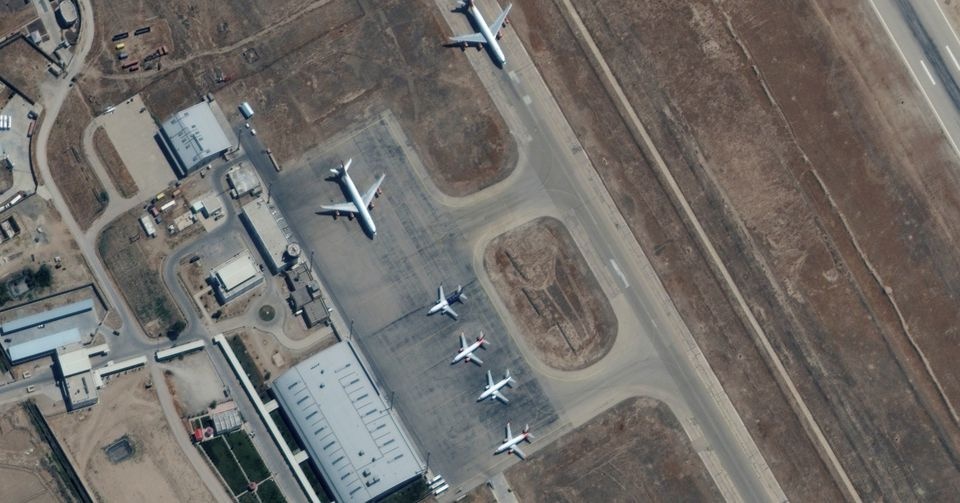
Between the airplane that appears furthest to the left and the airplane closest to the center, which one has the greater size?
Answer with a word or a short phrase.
the airplane that appears furthest to the left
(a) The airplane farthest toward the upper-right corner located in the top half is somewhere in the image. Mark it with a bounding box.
[448,0,518,64]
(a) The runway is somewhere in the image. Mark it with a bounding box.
[863,0,960,165]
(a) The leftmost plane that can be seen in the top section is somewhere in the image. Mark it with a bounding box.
[319,160,389,237]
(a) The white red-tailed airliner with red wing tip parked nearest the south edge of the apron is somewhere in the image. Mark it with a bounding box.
[493,423,532,456]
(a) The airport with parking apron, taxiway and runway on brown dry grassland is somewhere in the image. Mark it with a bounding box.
[269,0,960,503]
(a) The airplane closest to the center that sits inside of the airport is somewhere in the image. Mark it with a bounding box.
[428,286,465,316]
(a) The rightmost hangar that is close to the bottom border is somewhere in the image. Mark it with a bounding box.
[273,342,428,503]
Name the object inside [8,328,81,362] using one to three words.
shed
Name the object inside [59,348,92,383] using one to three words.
building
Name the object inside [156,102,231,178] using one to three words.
hangar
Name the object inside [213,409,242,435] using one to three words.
greenhouse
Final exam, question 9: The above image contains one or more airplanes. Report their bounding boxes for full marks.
[428,286,465,316]
[448,0,518,64]
[476,372,516,402]
[319,160,389,237]
[452,333,488,362]
[493,423,532,456]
